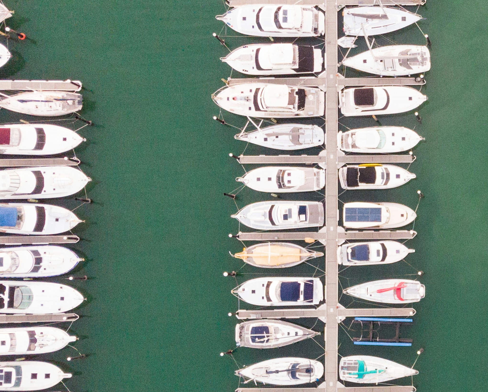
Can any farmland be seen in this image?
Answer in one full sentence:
No, the picture contains no farmland.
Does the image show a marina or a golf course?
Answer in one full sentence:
What you see here is a marina.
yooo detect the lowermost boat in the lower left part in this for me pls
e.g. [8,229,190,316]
[0,360,77,391]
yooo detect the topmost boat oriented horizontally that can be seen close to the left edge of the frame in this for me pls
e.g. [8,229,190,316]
[0,90,86,116]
